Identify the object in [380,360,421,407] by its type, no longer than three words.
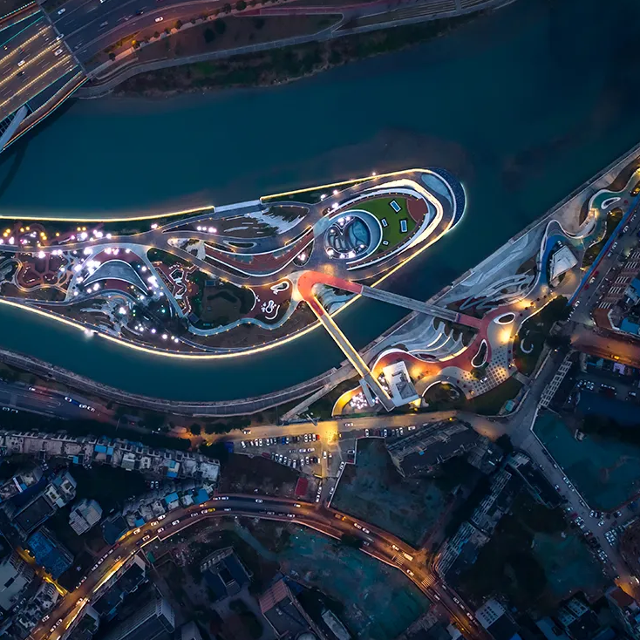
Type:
building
